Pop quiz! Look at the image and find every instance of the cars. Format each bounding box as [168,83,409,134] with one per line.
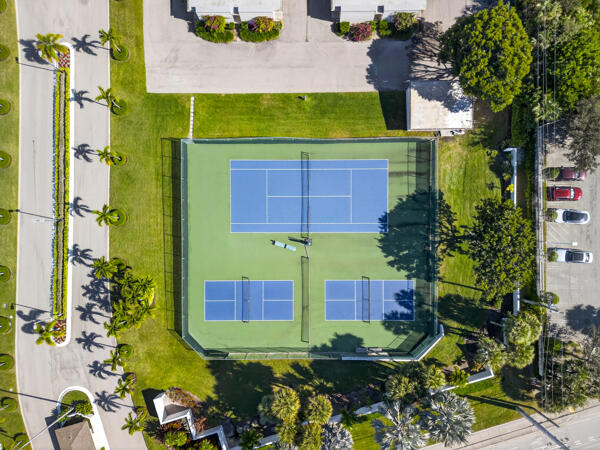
[551,185,581,200]
[556,248,590,263]
[555,209,589,224]
[550,168,581,182]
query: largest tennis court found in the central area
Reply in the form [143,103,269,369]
[187,142,431,352]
